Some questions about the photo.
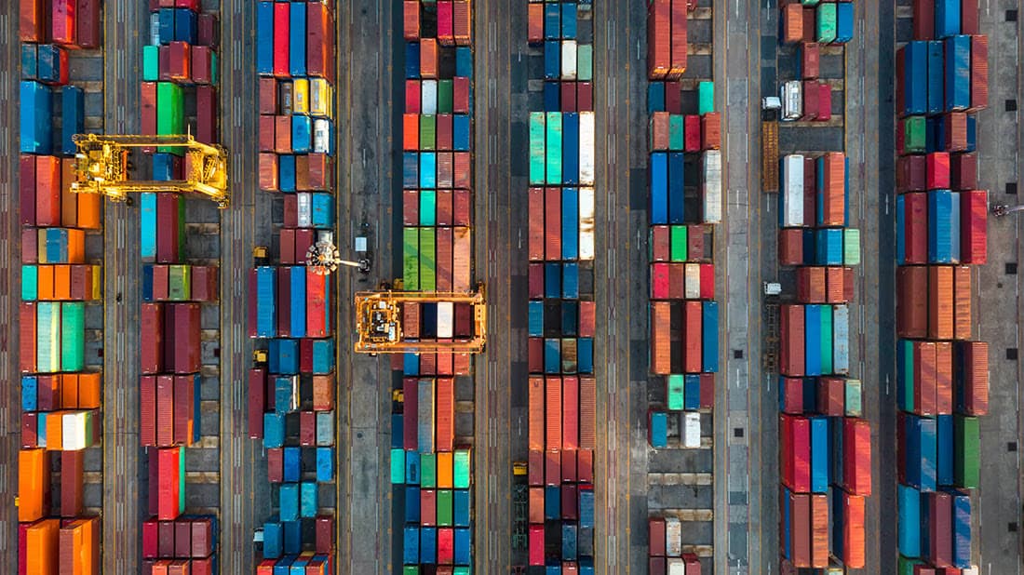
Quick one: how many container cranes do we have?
2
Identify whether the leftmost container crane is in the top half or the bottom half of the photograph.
top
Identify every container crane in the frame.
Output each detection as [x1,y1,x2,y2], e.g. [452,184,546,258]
[355,288,485,354]
[70,132,230,206]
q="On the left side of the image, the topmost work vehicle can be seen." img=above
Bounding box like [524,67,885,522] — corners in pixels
[251,243,269,267]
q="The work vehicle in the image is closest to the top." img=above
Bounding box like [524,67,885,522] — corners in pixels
[762,92,780,122]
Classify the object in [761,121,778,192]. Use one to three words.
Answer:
trailer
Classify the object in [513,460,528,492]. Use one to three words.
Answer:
work vehicle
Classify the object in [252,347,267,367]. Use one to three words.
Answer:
work vehicle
